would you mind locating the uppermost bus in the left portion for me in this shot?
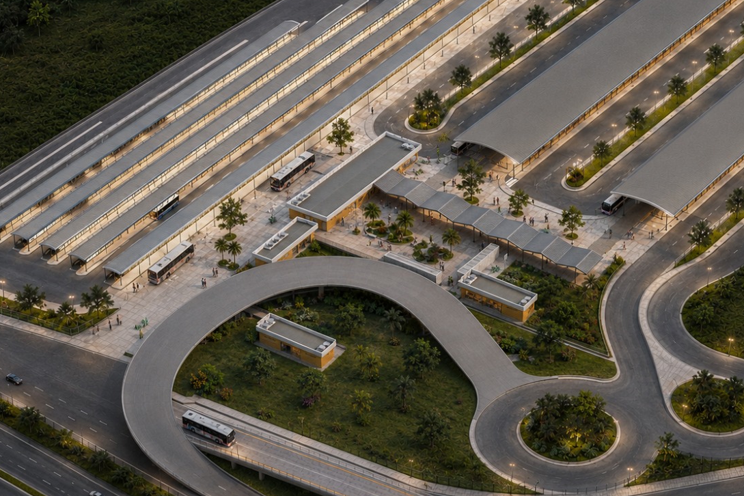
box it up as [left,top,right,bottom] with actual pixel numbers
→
[270,152,313,189]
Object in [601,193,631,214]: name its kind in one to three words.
bus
